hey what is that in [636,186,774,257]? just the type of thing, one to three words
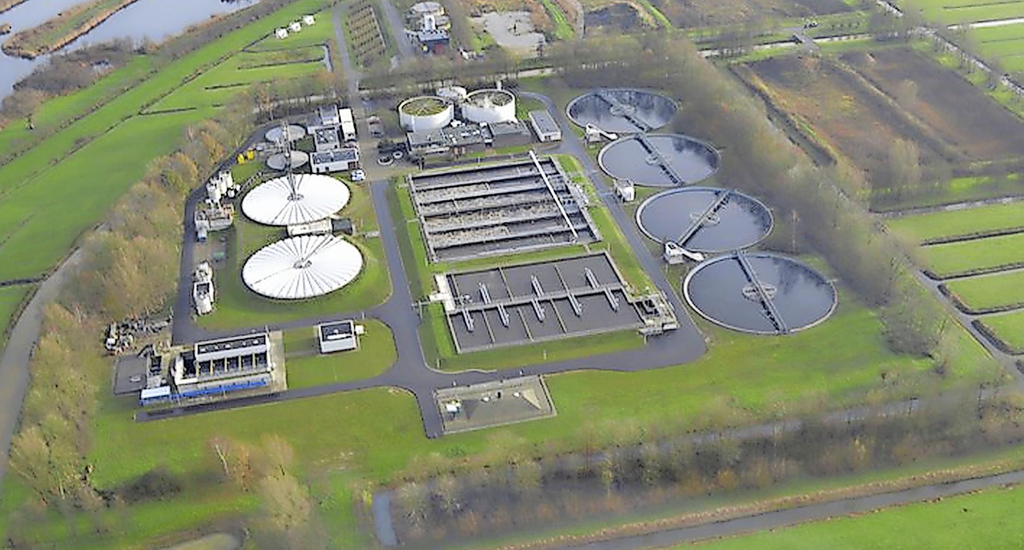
storage tank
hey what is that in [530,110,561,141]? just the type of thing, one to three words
shed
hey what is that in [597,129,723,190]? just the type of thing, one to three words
storage tank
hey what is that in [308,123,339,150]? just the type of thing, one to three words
building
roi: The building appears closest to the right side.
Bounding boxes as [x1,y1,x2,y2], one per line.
[611,182,637,200]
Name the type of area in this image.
industrial area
